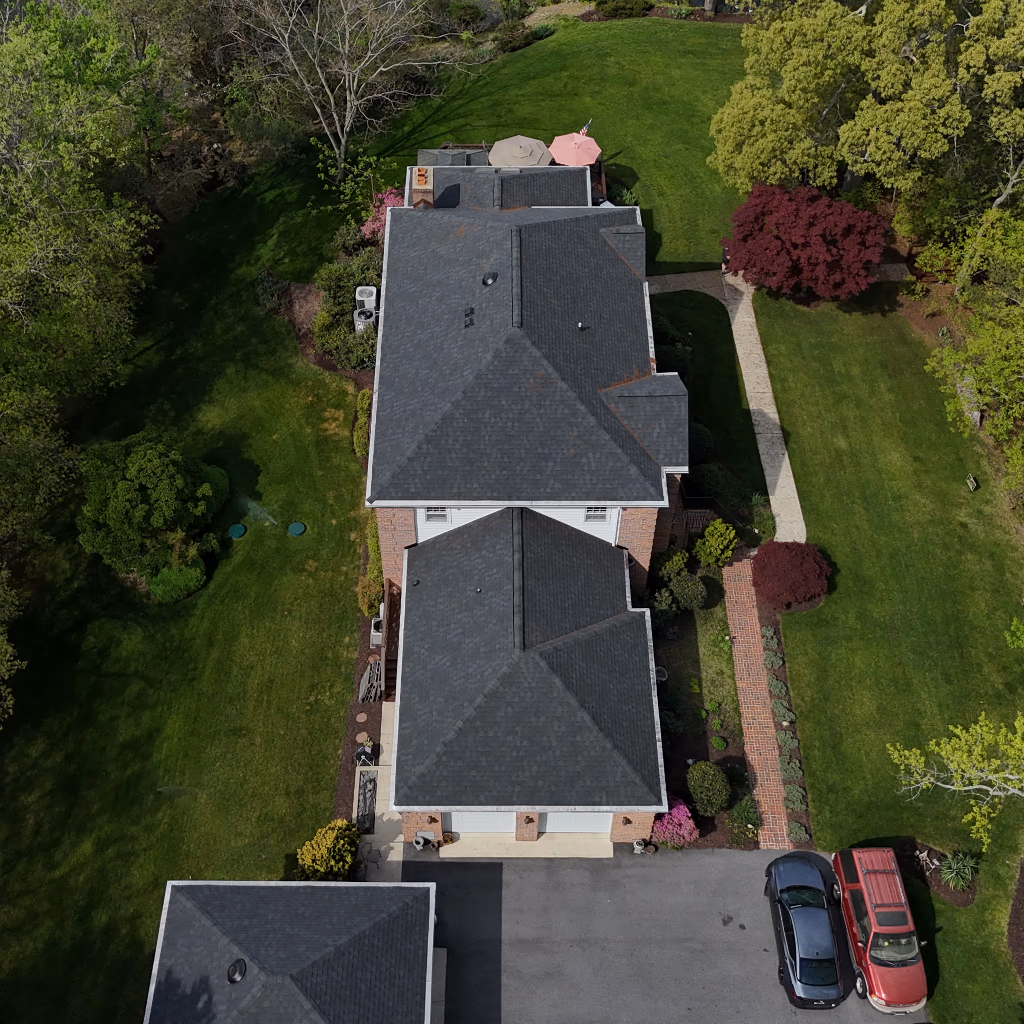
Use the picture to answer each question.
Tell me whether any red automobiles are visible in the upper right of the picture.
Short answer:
No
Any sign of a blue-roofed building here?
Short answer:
No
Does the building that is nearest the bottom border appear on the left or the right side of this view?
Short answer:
left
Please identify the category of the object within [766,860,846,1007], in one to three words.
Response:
car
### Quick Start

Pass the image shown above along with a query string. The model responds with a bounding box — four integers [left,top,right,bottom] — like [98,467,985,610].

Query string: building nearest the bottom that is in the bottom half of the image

[144,882,440,1024]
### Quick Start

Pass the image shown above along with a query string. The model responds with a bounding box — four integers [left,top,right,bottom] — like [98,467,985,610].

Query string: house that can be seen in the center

[365,163,744,841]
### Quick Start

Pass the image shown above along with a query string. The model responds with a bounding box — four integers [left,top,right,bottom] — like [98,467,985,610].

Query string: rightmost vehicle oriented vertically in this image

[836,848,929,1014]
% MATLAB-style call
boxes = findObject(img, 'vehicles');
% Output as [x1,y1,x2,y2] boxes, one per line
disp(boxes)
[836,848,929,1014]
[766,860,846,1007]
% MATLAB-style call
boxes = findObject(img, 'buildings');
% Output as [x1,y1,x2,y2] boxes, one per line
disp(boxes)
[144,882,440,1024]
[365,163,744,841]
